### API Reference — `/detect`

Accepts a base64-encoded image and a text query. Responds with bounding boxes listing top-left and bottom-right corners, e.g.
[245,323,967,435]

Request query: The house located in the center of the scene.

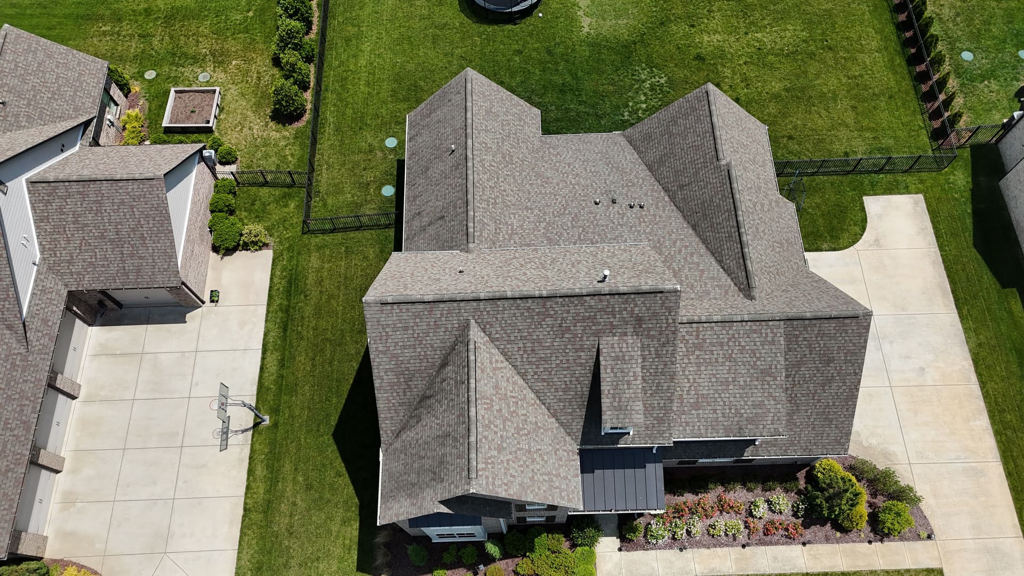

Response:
[362,67,872,545]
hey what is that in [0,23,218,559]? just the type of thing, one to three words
house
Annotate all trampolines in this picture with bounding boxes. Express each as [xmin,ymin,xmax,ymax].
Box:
[474,0,539,27]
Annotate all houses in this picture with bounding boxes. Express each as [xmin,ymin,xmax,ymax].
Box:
[993,100,1024,256]
[0,23,218,559]
[362,67,872,545]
